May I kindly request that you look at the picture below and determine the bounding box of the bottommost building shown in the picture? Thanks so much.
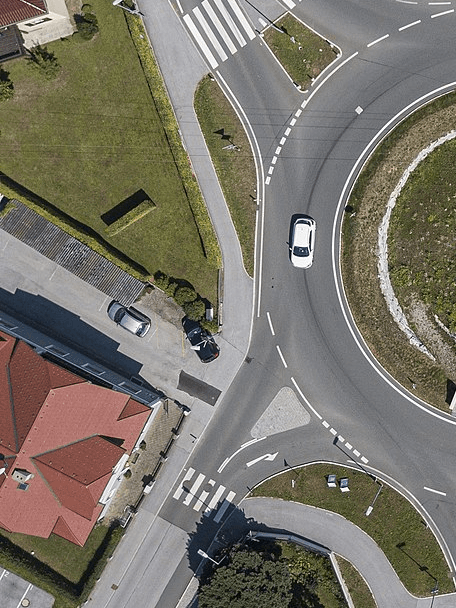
[0,313,162,546]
